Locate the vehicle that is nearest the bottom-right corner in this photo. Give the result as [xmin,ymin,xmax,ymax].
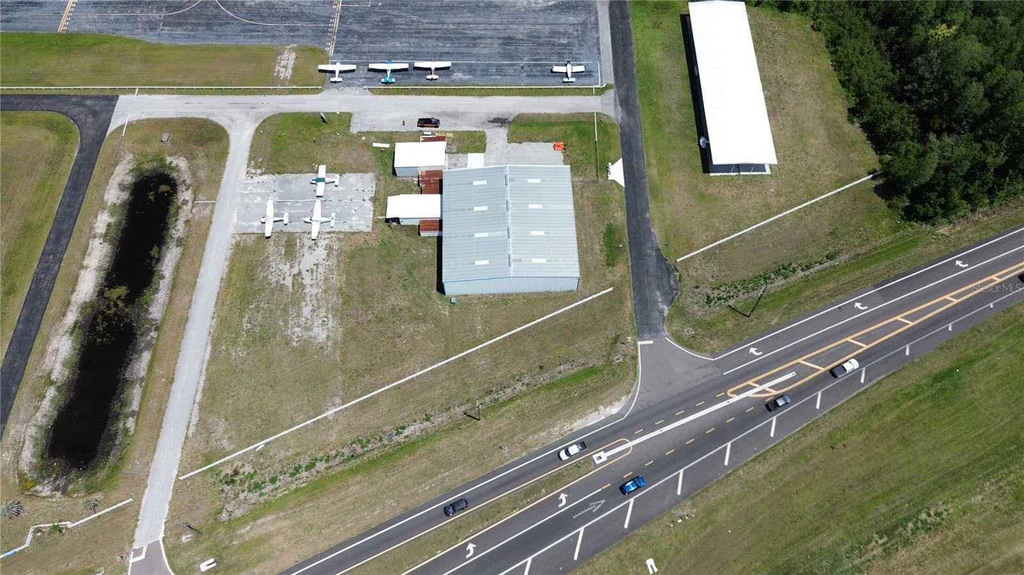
[833,359,860,377]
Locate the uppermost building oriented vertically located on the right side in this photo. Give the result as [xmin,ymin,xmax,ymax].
[686,0,777,175]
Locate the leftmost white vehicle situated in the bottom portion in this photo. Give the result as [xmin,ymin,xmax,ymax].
[558,441,588,460]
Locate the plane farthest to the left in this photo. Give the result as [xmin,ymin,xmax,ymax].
[259,200,291,236]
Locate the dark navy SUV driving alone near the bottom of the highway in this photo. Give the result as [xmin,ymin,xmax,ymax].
[444,499,469,517]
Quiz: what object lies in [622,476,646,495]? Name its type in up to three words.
car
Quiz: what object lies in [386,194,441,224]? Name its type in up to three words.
shed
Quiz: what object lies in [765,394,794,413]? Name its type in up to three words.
vehicle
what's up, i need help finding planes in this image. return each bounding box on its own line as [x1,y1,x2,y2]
[414,59,451,81]
[553,59,586,82]
[369,60,408,83]
[259,200,291,236]
[311,165,342,195]
[302,200,339,239]
[318,62,356,84]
